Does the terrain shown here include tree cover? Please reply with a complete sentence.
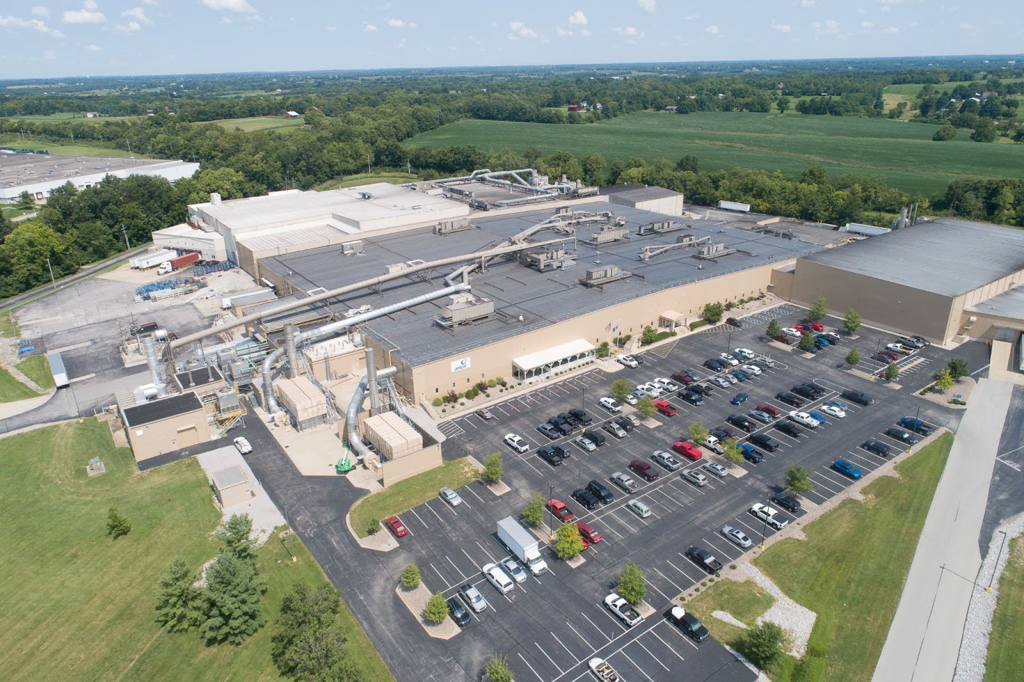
Yes, there is tree cover in the image.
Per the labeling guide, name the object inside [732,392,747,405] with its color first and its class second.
blue vehicle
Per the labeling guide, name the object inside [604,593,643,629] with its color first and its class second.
white truck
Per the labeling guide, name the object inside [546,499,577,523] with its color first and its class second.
red truck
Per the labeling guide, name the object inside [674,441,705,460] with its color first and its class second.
red vehicle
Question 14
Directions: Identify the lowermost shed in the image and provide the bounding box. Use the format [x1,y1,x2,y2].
[209,463,251,507]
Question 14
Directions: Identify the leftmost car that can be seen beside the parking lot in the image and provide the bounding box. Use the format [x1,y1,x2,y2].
[232,440,253,454]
